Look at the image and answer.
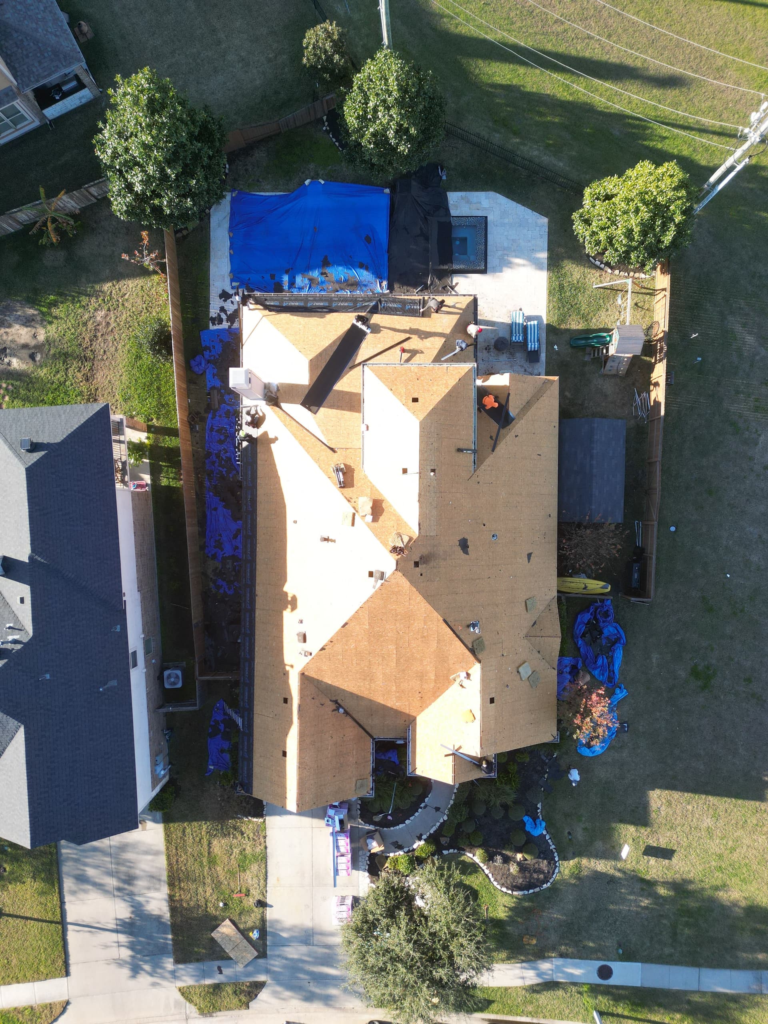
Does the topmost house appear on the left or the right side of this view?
left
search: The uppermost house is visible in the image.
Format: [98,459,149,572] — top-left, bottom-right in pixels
[0,0,104,146]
